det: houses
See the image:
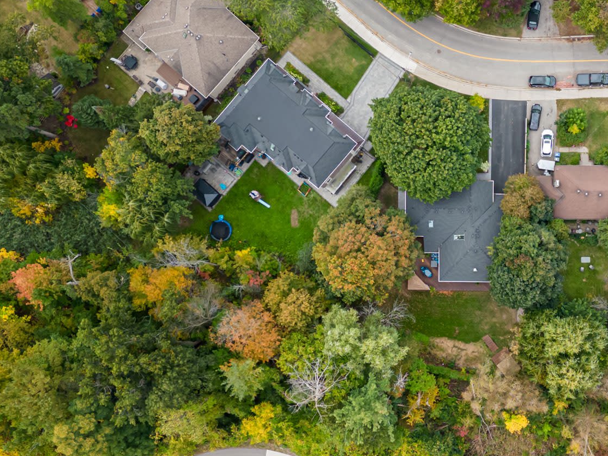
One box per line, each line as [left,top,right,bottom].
[124,0,264,100]
[406,178,505,282]
[214,58,366,195]
[537,165,608,220]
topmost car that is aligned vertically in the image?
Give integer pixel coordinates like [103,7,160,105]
[527,0,542,31]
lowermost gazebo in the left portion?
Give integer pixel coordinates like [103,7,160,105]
[192,179,226,208]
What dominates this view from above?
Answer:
trees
